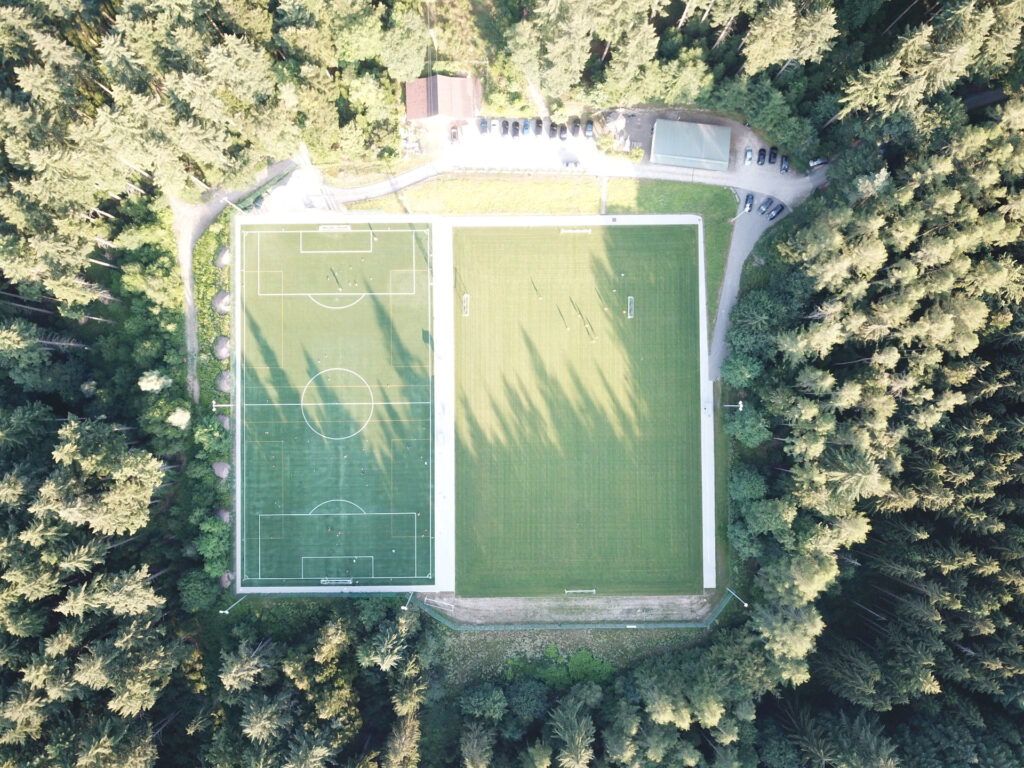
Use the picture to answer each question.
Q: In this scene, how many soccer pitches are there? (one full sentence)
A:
In total, 2 soccer pitches can be seen.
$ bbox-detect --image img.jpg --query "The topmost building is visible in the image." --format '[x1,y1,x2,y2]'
[407,72,483,122]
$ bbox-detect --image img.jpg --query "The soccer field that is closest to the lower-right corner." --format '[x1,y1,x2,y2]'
[453,225,704,597]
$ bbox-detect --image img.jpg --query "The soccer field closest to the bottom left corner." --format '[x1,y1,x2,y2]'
[240,223,435,587]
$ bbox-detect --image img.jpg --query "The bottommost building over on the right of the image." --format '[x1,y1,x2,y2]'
[650,119,732,171]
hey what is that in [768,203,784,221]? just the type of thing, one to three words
car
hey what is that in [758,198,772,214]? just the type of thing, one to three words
car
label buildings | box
[650,119,732,171]
[407,72,483,122]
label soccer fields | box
[240,223,435,587]
[453,225,704,597]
